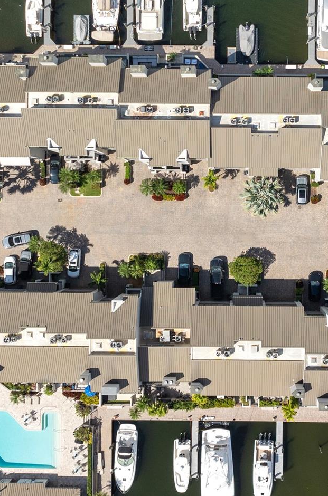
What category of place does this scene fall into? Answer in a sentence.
The picture captures a residential area.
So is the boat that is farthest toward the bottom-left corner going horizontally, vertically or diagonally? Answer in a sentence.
The boat that is farthest toward the bottom-left corner is laid out vertically.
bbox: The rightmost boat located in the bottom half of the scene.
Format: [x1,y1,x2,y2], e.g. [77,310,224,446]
[253,427,274,496]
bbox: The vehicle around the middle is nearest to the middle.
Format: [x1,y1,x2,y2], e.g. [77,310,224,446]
[176,252,190,284]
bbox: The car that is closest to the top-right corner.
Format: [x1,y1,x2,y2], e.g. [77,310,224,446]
[295,174,309,205]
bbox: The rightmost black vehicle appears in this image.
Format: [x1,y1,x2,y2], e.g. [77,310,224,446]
[309,271,323,301]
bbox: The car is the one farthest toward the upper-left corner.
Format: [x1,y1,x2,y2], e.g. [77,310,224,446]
[49,154,62,184]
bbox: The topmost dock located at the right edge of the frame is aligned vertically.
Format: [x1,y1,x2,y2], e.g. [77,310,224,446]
[304,0,320,64]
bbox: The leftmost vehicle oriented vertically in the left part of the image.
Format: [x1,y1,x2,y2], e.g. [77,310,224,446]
[4,255,17,285]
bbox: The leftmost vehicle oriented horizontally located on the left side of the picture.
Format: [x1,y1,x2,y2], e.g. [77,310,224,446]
[2,232,34,247]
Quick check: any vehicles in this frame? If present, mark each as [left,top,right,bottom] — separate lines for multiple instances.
[209,255,223,288]
[2,232,34,247]
[309,271,323,301]
[4,255,17,285]
[66,248,81,278]
[18,249,33,279]
[295,174,309,205]
[49,154,62,184]
[176,252,190,284]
